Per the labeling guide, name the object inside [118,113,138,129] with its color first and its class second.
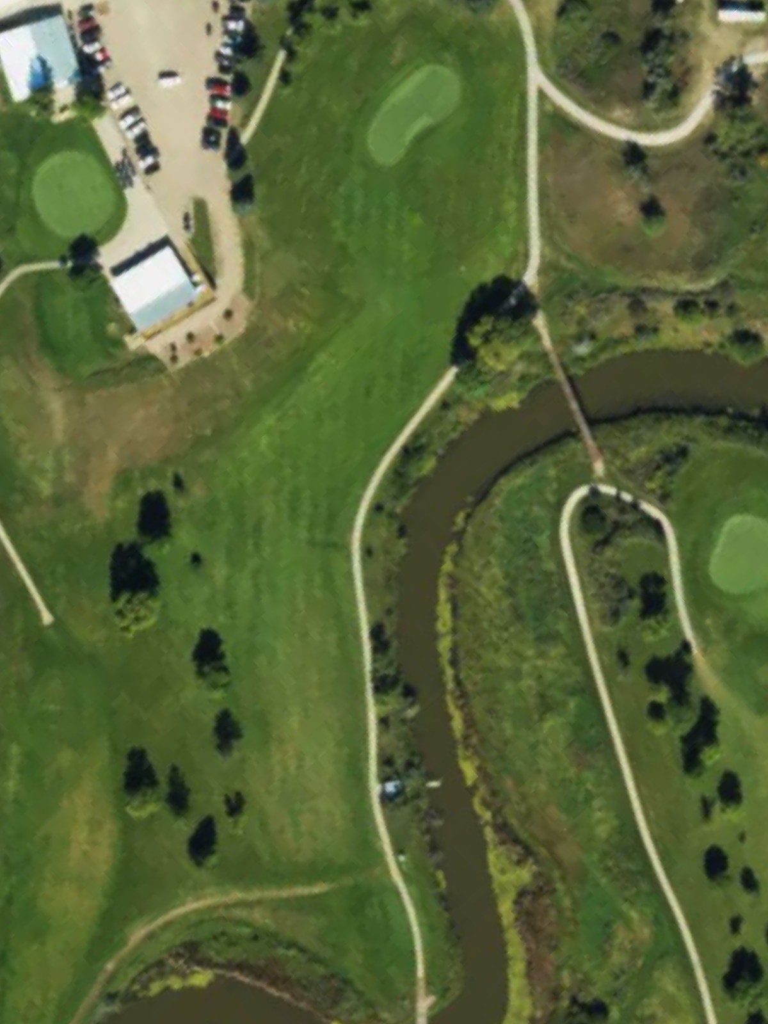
white car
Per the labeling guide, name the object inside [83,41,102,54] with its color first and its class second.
white vehicle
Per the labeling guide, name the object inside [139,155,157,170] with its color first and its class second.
white car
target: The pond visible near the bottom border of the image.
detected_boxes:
[104,973,329,1024]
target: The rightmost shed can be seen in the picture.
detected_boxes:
[719,10,767,22]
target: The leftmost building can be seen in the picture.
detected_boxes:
[0,15,81,102]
